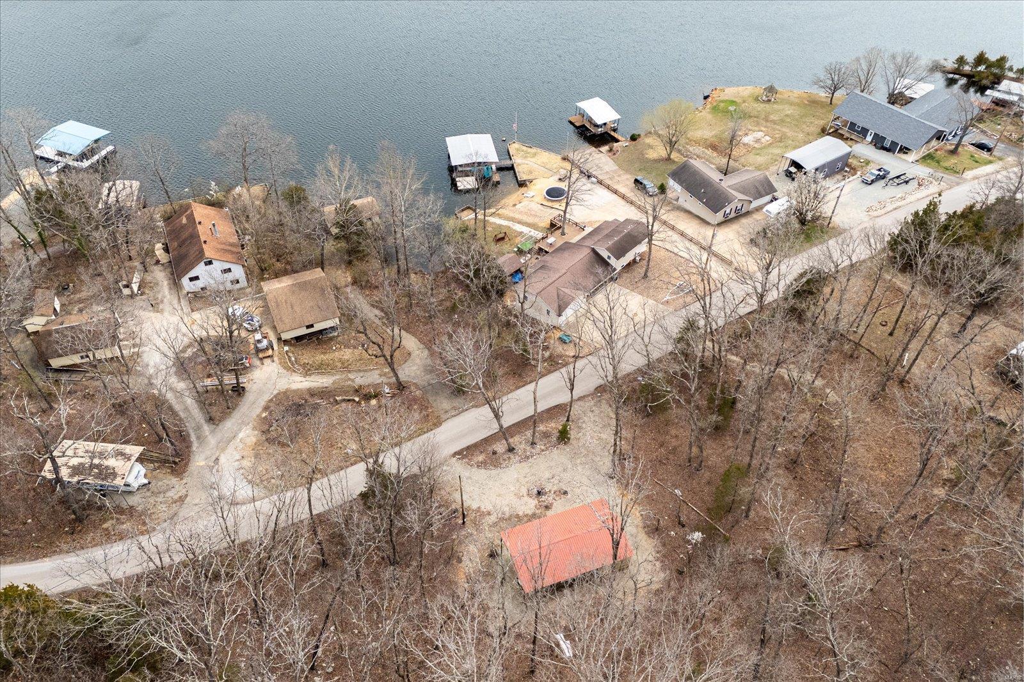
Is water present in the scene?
Yes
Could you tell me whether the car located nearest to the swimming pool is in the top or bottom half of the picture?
top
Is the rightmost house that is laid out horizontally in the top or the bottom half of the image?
top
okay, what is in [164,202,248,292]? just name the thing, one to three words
house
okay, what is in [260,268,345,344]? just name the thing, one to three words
building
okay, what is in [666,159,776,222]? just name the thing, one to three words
house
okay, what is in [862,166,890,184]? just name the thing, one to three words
vehicle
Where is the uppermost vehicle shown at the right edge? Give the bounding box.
[969,138,997,153]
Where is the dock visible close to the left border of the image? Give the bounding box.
[35,120,117,175]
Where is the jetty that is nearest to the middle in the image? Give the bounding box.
[445,132,515,184]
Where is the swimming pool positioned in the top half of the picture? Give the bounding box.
[544,181,570,200]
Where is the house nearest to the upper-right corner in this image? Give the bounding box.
[827,87,980,164]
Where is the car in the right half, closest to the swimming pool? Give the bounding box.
[634,174,657,196]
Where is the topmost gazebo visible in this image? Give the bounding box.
[759,79,781,99]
